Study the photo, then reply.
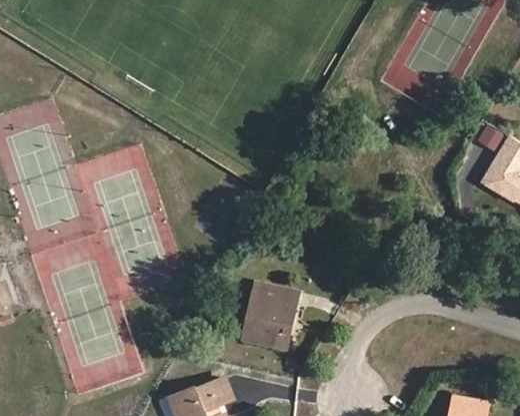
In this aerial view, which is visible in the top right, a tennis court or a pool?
tennis court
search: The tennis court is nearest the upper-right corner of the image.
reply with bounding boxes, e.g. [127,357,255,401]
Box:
[381,0,507,114]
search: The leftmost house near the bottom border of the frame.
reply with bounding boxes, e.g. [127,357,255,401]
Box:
[166,377,240,416]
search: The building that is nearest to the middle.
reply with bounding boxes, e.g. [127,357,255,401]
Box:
[240,279,304,352]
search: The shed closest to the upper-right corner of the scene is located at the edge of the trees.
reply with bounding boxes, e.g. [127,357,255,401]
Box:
[478,125,504,152]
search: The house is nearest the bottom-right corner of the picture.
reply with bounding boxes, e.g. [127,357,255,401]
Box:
[449,394,490,416]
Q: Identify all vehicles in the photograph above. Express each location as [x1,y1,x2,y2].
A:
[388,395,406,407]
[381,113,397,130]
